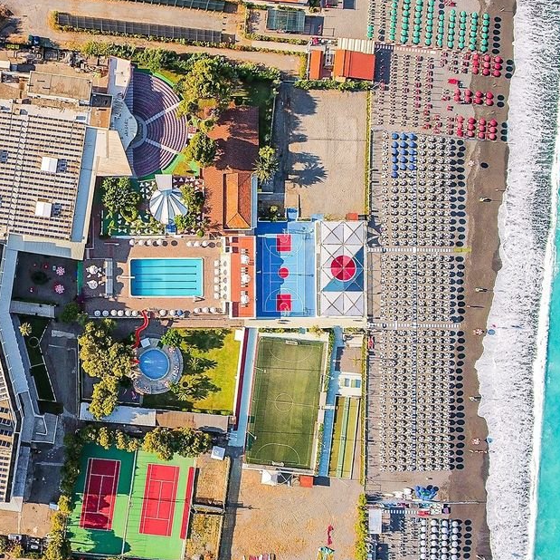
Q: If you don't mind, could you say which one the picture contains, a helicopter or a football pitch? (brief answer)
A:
football pitch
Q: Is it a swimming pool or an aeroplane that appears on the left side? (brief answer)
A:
swimming pool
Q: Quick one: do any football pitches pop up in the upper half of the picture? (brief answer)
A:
No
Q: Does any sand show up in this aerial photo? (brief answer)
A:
Yes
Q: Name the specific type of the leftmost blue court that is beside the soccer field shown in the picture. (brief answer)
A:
basketball court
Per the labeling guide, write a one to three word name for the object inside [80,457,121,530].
tennis court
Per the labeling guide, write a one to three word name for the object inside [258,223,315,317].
basketball court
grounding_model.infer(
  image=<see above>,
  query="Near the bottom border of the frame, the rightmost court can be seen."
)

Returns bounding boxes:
[139,463,180,537]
